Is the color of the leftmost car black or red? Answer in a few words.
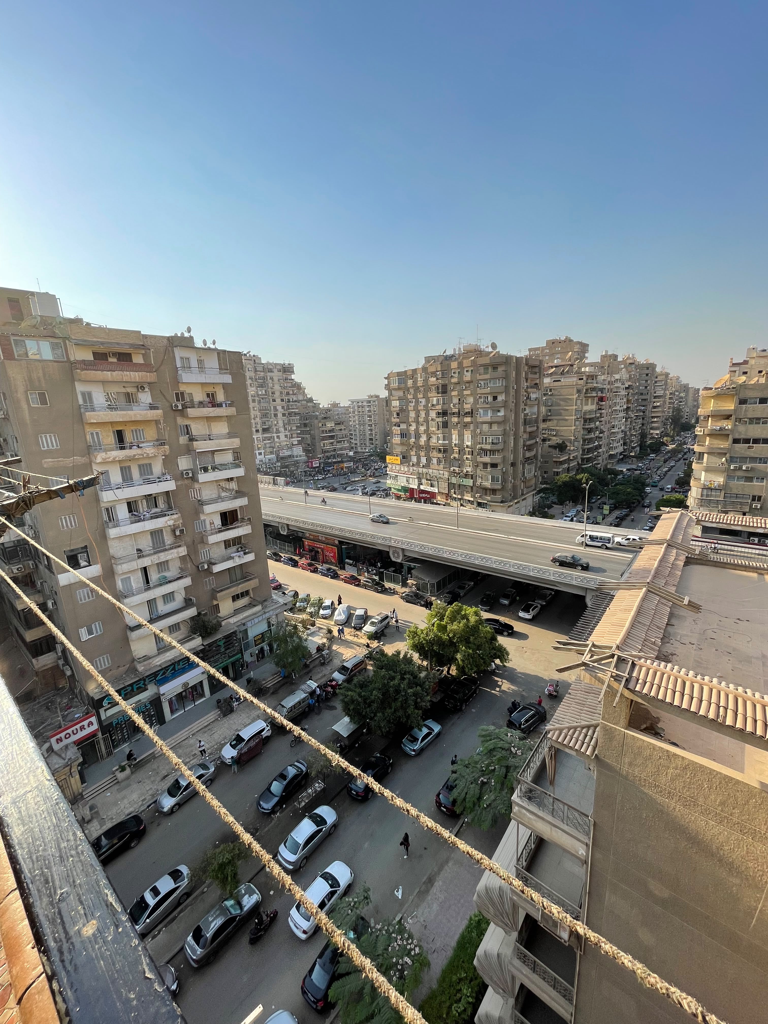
black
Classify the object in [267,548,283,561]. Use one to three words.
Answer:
vehicle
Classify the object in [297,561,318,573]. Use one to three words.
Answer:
vehicle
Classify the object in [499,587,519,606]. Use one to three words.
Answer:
car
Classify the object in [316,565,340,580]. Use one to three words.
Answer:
car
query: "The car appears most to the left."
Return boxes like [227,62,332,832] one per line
[88,806,148,865]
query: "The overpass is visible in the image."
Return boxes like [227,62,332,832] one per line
[259,477,763,610]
